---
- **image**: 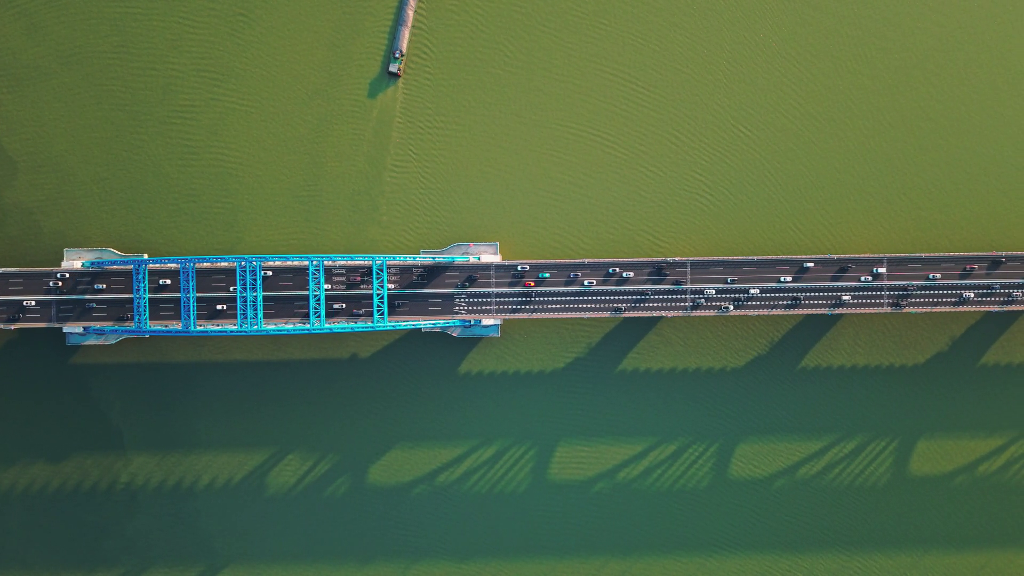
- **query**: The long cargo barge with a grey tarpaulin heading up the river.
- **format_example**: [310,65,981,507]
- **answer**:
[387,0,418,77]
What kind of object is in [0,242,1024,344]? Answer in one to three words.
bridge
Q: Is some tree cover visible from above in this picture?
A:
No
